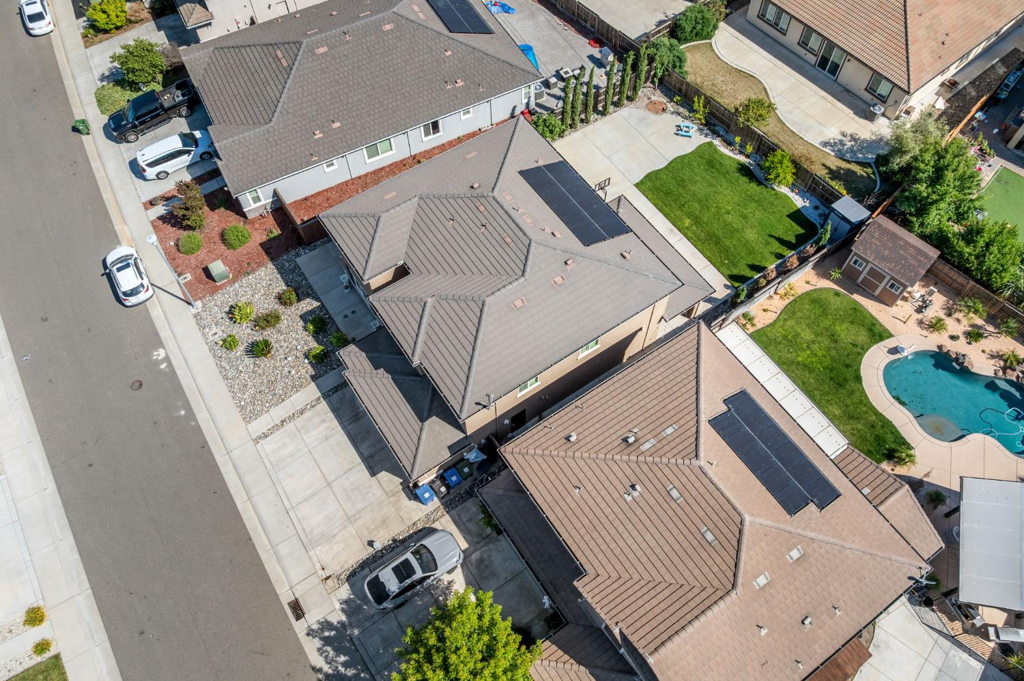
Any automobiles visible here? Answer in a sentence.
Yes, an automobile appears in the view.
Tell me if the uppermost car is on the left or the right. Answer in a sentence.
You can find the uppermost car on the left side of the picture.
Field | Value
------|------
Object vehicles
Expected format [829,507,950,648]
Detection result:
[107,248,159,315]
[102,79,199,142]
[18,0,57,37]
[129,129,216,180]
[362,535,468,606]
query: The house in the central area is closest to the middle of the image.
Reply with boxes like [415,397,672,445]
[316,115,718,490]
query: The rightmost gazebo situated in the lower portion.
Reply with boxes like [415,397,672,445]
[936,479,1024,613]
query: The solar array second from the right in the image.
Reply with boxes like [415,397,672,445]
[516,160,628,246]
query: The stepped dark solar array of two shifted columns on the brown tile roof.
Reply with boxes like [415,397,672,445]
[707,388,843,514]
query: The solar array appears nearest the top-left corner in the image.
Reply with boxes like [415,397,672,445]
[429,0,496,32]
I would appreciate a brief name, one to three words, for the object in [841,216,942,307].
shed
